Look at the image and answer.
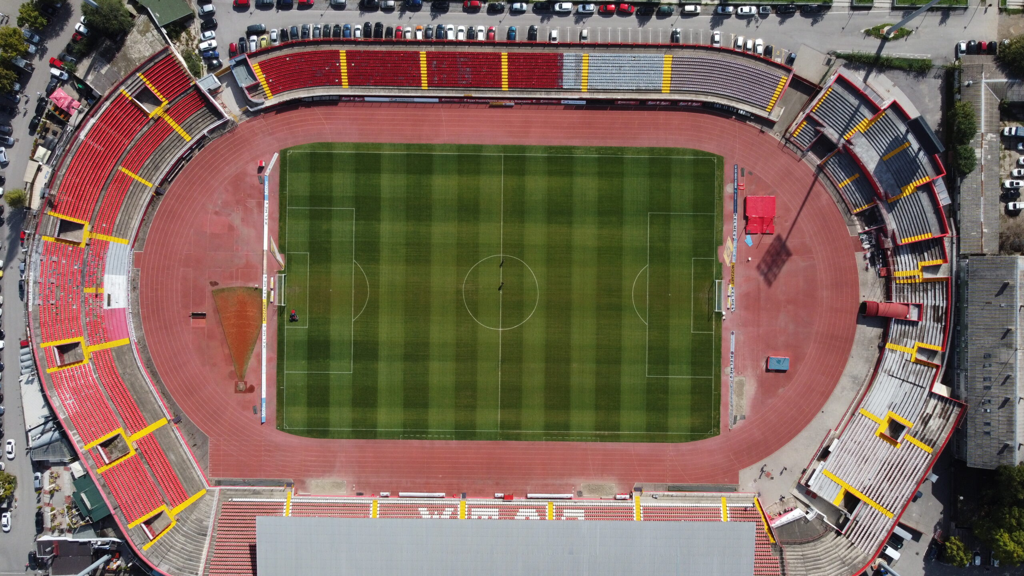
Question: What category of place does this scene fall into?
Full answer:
The picture captures a sports ground.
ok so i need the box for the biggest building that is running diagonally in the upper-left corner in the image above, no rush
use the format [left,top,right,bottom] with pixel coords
[66,15,169,95]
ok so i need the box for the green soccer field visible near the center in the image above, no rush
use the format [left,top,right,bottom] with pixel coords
[277,142,723,443]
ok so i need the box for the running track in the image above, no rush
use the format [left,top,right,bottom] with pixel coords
[134,104,869,497]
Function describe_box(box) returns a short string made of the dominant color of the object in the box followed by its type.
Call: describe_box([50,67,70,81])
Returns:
white car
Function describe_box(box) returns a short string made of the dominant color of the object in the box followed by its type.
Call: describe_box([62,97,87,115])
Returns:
pink umbrella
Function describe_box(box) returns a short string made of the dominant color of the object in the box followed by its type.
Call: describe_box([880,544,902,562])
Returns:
white vehicle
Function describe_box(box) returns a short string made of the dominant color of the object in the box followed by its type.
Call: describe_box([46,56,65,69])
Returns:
red vehicle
